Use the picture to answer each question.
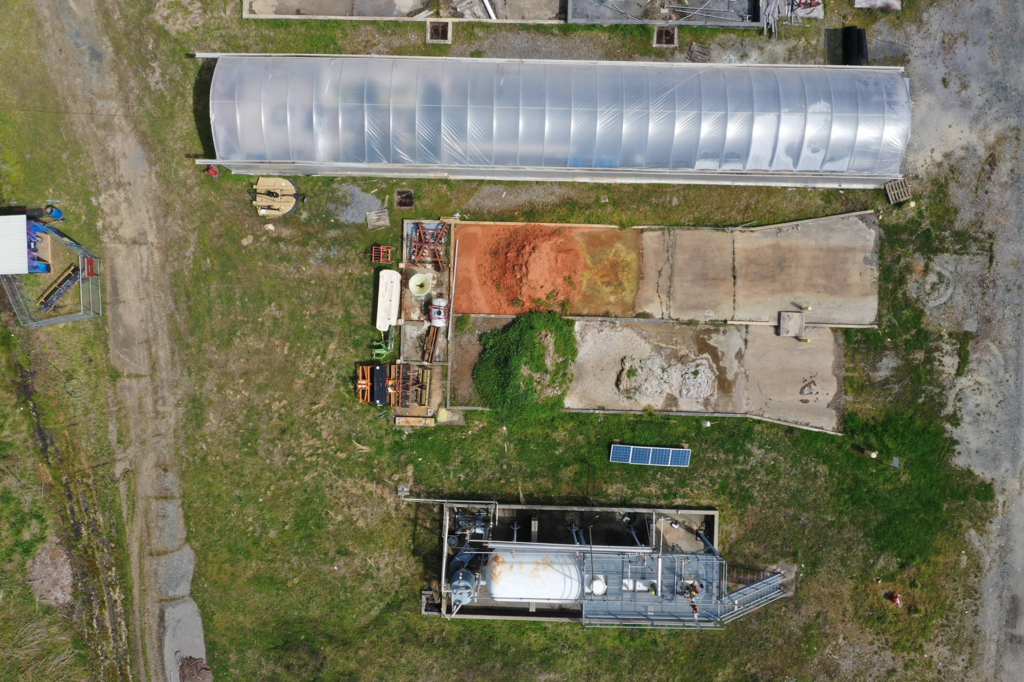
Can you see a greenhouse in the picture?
Yes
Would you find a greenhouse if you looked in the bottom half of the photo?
No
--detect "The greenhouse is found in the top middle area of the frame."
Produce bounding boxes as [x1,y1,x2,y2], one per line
[195,47,908,189]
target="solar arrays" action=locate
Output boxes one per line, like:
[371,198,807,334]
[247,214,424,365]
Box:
[610,437,691,467]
